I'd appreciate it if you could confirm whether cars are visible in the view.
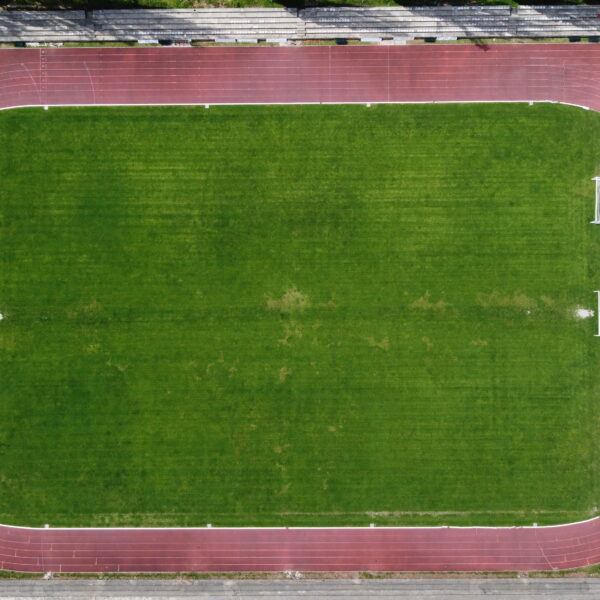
No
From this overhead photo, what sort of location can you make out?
sports ground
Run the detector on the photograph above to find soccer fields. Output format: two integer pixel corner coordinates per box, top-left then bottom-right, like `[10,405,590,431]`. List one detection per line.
[0,102,600,529]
